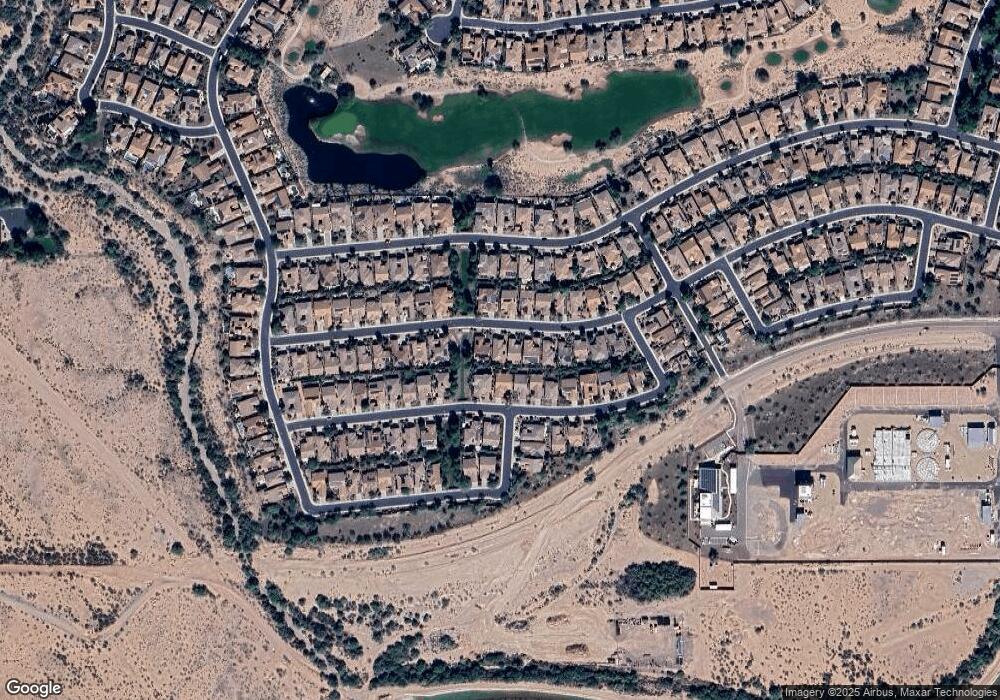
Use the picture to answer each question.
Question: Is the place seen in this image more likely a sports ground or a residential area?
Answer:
residential area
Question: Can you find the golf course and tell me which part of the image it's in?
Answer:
top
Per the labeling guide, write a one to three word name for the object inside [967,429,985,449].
shed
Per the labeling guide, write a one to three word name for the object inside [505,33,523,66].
house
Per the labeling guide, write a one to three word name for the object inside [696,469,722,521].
building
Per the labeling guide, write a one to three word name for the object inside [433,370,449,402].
house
